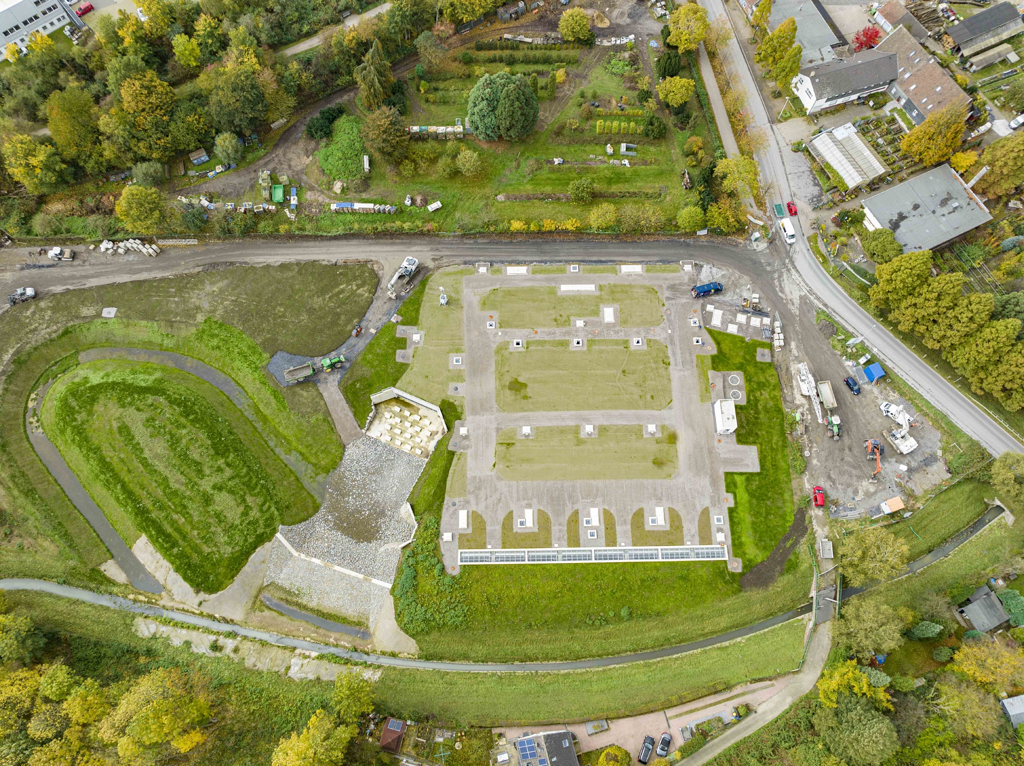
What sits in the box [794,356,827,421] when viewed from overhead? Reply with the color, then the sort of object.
white crane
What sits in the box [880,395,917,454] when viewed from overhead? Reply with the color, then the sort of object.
white work vehicle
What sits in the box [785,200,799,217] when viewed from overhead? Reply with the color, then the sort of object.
red car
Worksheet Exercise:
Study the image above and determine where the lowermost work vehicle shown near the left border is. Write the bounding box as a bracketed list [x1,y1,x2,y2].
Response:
[9,286,35,306]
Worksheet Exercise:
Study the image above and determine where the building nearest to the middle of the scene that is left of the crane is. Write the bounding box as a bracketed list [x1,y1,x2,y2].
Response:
[711,398,738,433]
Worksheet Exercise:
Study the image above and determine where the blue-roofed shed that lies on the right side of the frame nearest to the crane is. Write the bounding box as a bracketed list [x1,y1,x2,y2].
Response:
[858,363,886,385]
